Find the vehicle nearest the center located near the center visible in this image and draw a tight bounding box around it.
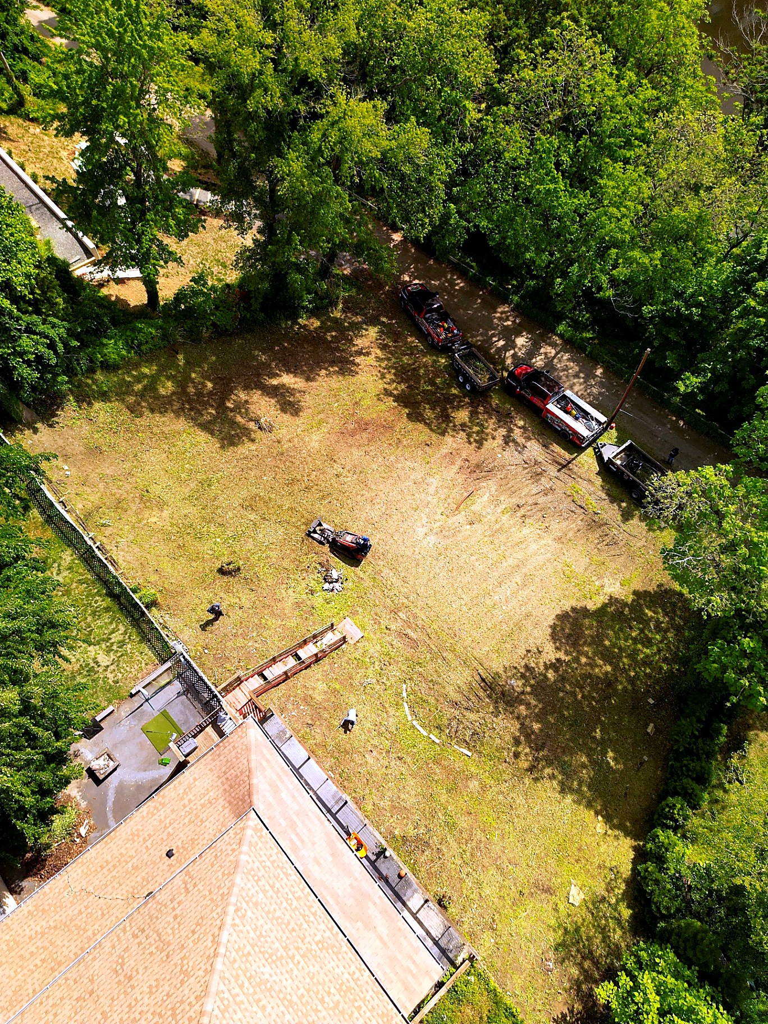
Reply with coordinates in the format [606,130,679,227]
[305,520,363,561]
